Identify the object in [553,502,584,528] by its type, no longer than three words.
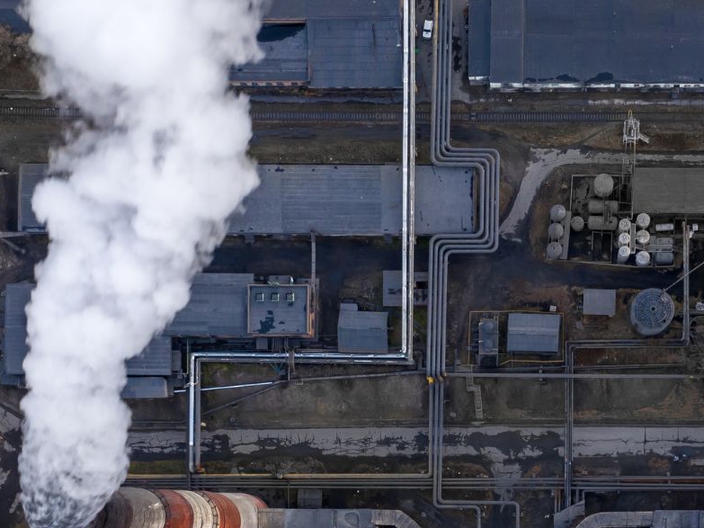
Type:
shed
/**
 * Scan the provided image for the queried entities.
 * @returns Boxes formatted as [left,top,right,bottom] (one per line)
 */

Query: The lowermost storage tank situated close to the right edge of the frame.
[630,289,673,335]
